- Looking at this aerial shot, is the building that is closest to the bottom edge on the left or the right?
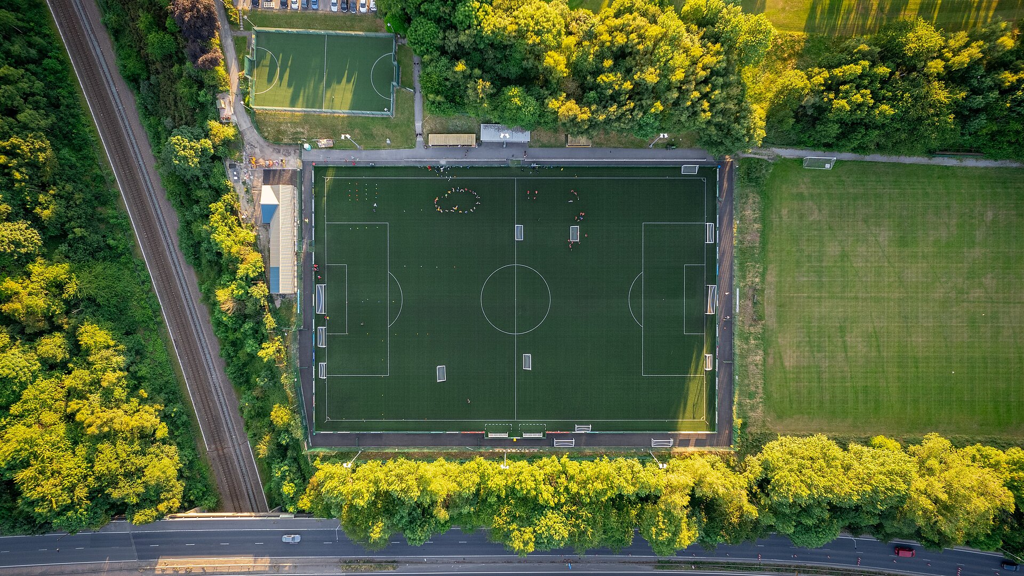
left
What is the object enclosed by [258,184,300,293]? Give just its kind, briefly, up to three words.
building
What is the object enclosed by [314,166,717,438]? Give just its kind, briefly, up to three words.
soccer field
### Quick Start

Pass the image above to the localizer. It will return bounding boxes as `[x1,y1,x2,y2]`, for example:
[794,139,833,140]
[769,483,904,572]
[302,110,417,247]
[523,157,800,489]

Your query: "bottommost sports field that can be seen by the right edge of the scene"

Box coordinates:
[768,161,1024,438]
